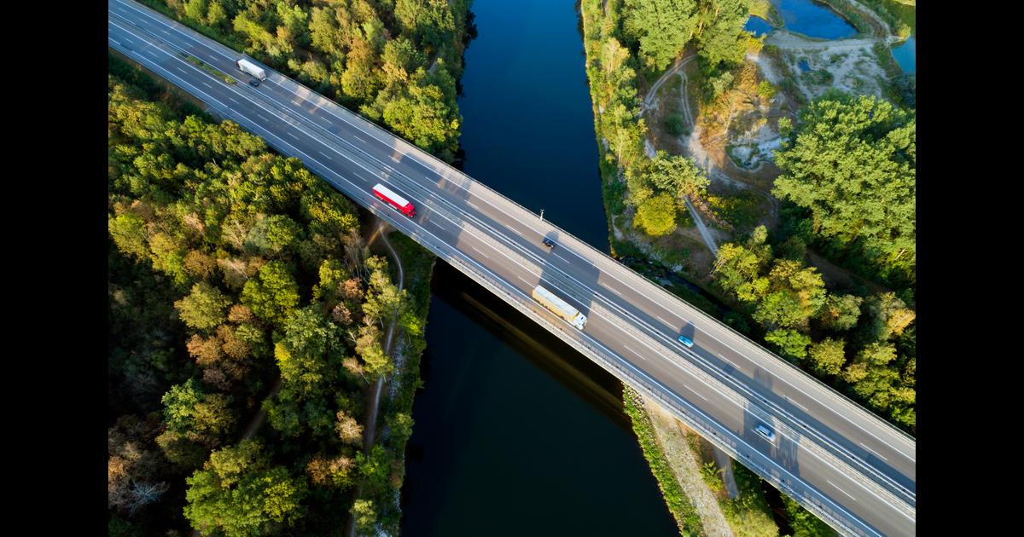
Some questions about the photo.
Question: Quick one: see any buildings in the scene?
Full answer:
No, no building can be seen from above.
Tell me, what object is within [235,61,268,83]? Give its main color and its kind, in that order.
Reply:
white truck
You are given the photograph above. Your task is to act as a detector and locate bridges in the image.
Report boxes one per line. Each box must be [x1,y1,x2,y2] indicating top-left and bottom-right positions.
[215,74,1024,537]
